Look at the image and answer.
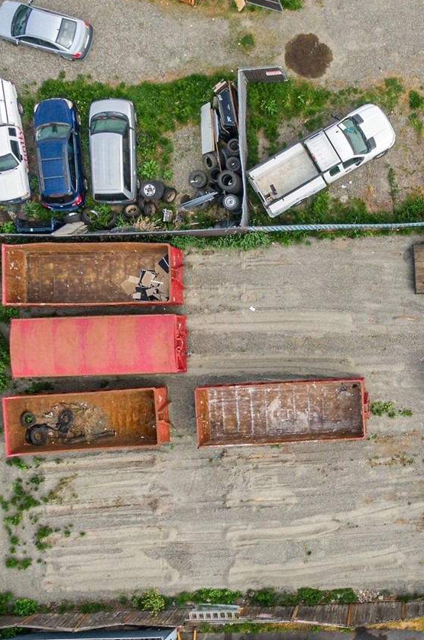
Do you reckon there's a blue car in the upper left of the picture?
Yes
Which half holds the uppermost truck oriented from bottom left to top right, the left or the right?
right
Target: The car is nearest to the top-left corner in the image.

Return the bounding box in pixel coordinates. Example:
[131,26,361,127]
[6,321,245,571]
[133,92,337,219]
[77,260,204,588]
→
[0,0,96,62]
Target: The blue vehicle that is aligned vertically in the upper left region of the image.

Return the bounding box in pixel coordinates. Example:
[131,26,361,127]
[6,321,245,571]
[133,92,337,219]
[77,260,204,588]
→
[27,99,90,211]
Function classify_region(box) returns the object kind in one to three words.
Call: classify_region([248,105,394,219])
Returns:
truck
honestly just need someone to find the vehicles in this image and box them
[0,79,35,203]
[27,99,90,211]
[248,105,394,219]
[0,0,96,62]
[82,100,142,205]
